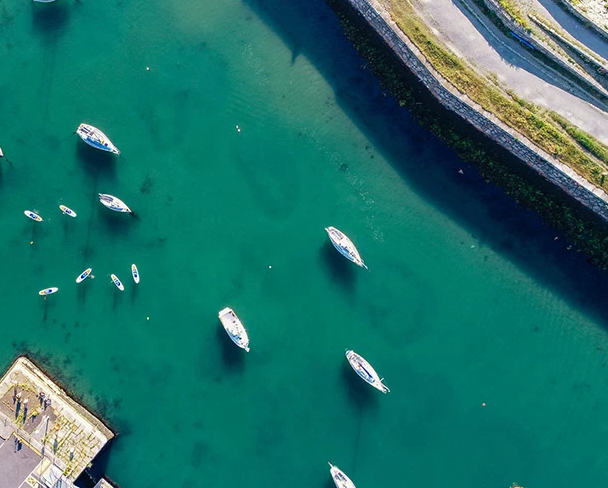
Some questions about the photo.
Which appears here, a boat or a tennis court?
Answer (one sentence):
I can see a boat in this picture.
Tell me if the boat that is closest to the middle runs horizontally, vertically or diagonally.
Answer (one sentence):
What the image shows is the boat that is closest to the middle lying diagonally.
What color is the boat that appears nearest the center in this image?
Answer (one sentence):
From above, the boat that appears nearest the center appears white.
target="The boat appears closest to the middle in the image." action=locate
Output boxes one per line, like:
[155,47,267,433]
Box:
[325,224,368,271]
